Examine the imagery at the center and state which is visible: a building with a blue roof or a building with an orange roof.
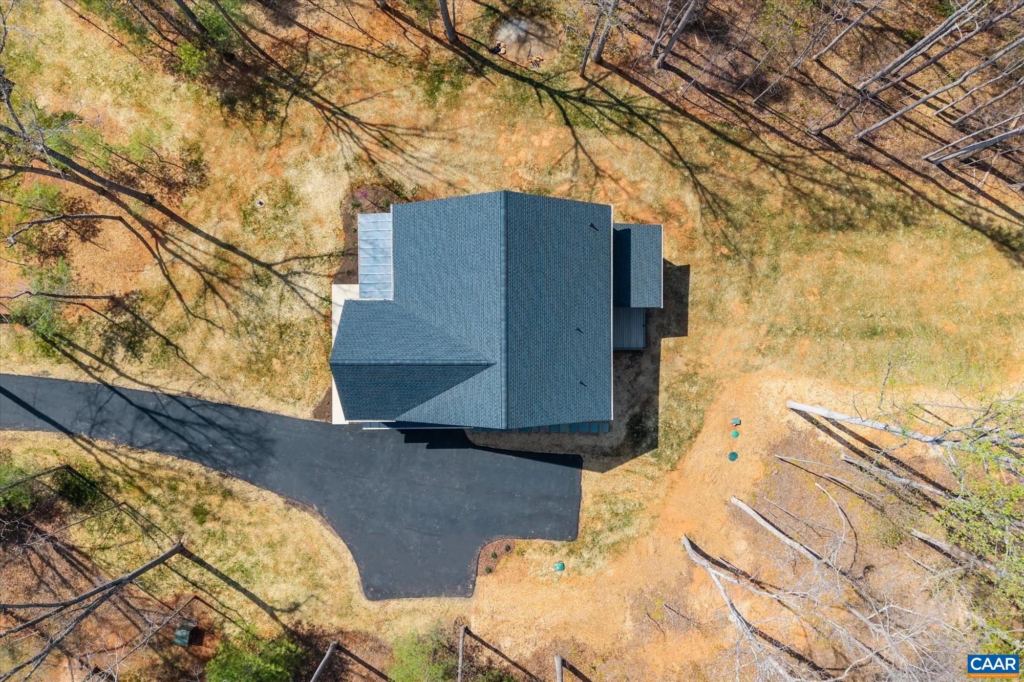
building with a blue roof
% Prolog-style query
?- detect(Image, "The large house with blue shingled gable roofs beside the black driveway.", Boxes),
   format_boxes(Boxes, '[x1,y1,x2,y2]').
[330,189,664,430]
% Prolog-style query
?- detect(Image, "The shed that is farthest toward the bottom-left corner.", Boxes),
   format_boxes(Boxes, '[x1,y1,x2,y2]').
[172,619,199,648]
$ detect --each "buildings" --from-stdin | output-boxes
[330,189,664,430]
[172,619,199,648]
